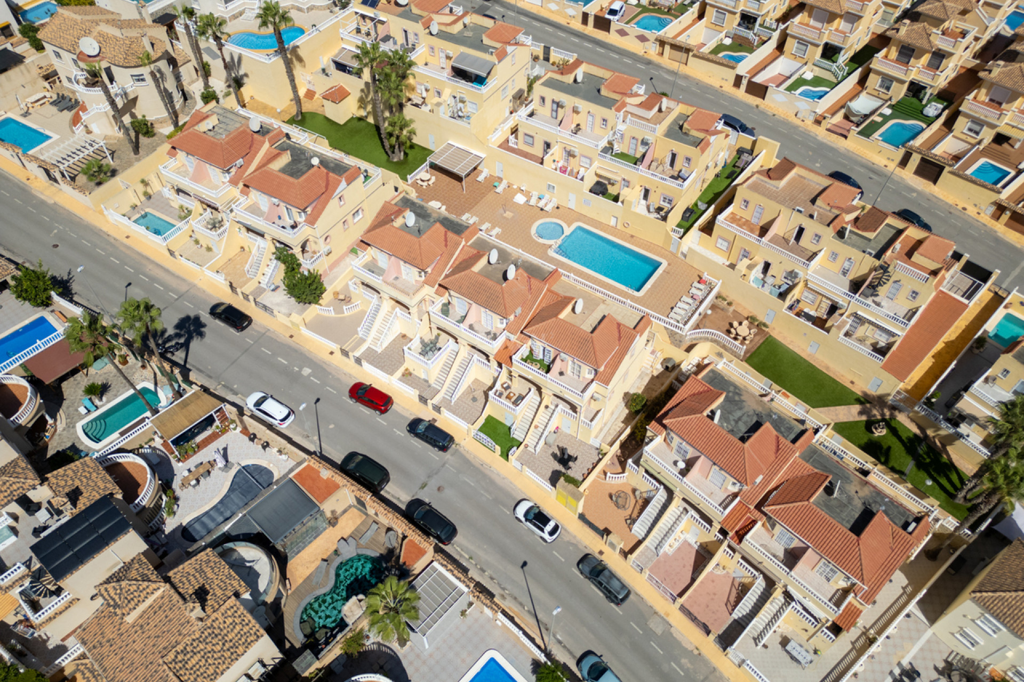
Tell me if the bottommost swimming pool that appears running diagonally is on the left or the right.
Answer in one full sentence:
The bottommost swimming pool that appears running diagonally is on the left side of the image.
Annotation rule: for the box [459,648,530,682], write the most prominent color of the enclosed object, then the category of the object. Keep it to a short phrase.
white swimming pool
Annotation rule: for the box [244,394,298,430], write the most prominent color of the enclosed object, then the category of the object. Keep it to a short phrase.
white car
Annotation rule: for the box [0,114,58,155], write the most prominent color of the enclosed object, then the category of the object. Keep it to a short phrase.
blue swimming pool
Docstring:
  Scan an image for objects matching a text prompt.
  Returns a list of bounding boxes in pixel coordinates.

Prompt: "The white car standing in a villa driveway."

[604,0,626,21]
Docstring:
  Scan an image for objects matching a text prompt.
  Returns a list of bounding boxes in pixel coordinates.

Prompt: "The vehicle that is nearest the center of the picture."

[404,418,457,455]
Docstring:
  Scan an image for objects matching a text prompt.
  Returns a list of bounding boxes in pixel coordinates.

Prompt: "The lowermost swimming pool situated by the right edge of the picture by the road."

[981,313,1024,348]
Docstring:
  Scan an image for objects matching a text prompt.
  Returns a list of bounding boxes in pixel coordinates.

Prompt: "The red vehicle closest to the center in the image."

[347,386,396,418]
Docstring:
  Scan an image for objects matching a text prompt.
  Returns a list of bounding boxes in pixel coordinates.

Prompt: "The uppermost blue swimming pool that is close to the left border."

[21,0,63,26]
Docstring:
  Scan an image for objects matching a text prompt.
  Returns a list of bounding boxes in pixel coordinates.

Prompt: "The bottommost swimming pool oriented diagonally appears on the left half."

[293,547,389,656]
